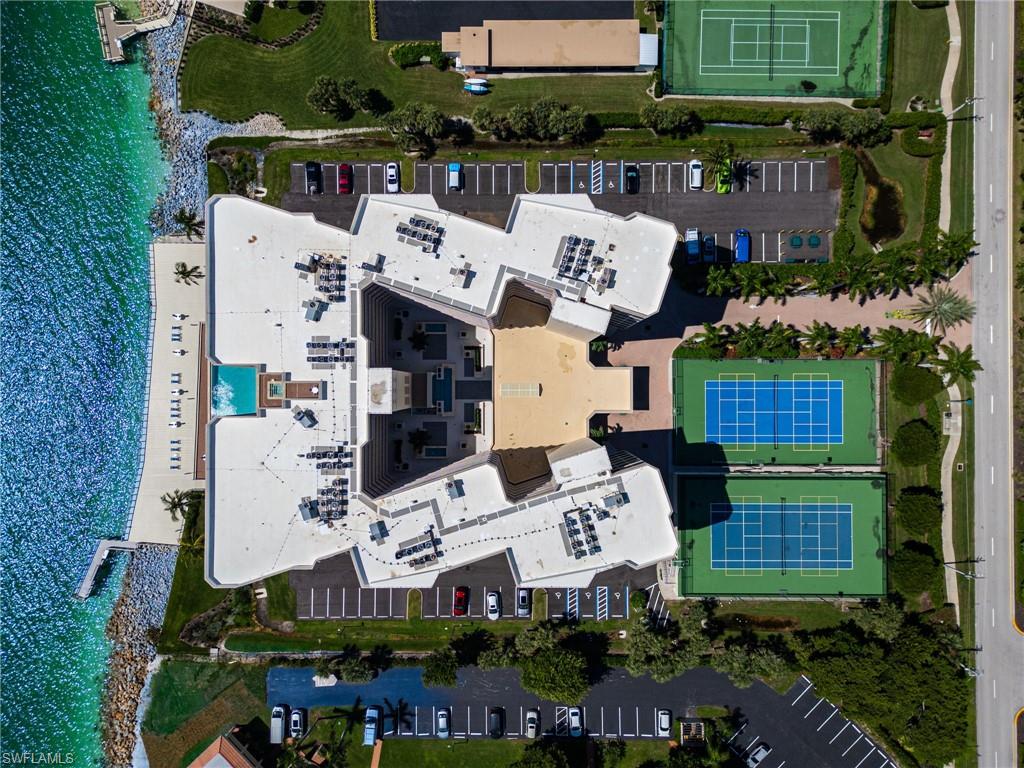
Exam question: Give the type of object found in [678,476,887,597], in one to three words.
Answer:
tennis court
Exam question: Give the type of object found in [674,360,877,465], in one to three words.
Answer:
tennis court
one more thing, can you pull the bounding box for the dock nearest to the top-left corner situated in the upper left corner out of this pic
[94,0,179,64]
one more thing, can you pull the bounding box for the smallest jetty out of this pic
[74,540,138,599]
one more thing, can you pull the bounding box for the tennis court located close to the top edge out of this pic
[669,0,881,88]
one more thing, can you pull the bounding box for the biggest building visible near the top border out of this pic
[441,20,640,77]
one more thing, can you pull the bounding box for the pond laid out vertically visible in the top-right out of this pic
[859,148,904,242]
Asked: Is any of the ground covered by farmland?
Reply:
No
